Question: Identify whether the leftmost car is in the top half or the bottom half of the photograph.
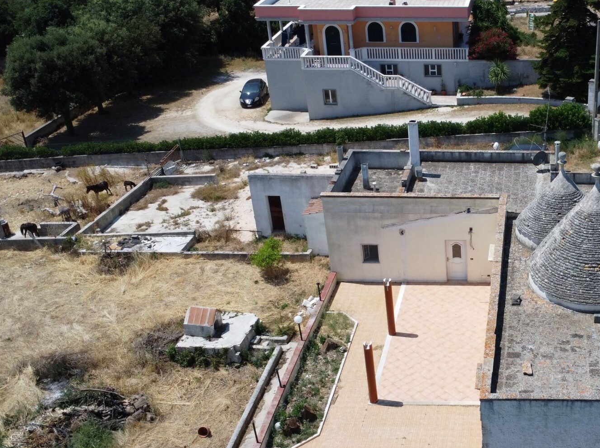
top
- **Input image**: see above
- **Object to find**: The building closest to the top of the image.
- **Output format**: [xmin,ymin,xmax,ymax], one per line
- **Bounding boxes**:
[254,0,476,119]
